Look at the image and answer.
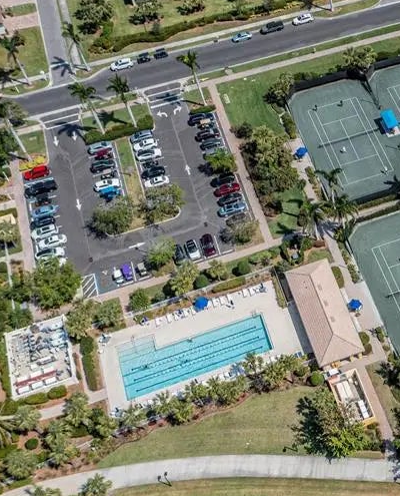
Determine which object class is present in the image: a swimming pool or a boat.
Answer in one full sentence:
It is a swimming pool that can be seen here.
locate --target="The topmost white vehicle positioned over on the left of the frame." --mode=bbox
[110,59,133,71]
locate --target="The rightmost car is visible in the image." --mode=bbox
[293,12,314,26]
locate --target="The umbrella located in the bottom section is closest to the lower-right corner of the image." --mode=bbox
[348,299,363,313]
